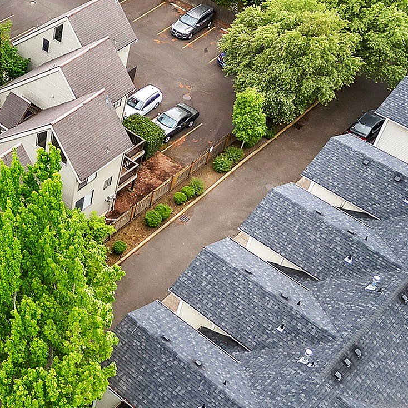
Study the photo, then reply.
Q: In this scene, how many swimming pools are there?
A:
zero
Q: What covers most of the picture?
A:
buildings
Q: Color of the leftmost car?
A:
white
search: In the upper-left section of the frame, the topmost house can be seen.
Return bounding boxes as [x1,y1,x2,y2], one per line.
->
[10,0,140,79]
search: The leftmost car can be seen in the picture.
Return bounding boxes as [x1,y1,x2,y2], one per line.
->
[129,80,171,120]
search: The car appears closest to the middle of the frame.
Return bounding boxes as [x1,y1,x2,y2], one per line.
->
[152,101,205,143]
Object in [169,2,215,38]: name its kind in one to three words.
car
